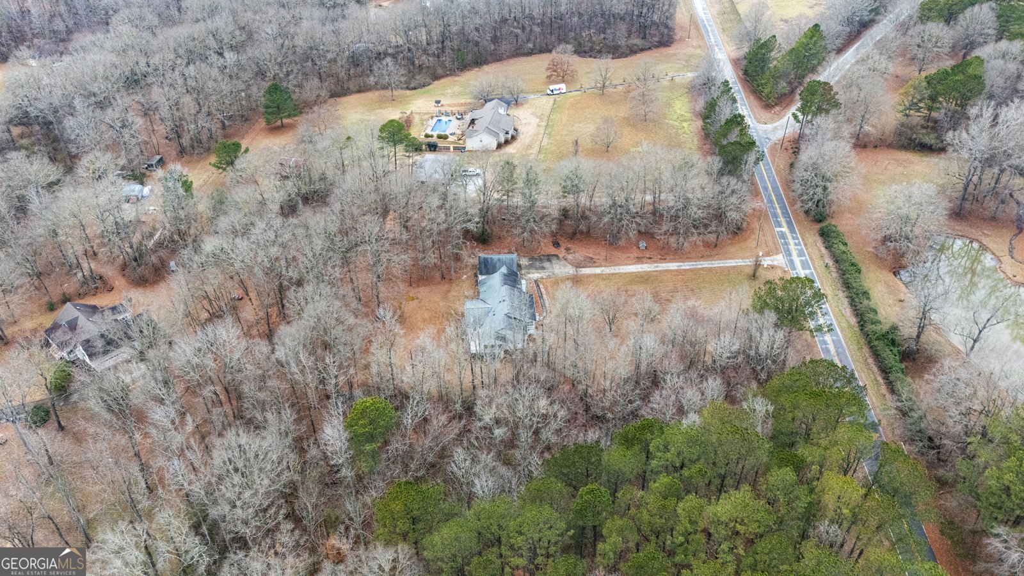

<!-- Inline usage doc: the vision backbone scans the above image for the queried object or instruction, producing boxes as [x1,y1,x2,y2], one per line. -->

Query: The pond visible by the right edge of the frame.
[897,239,1024,391]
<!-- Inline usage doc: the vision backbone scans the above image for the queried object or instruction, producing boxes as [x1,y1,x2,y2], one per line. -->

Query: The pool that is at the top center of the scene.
[430,119,452,133]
